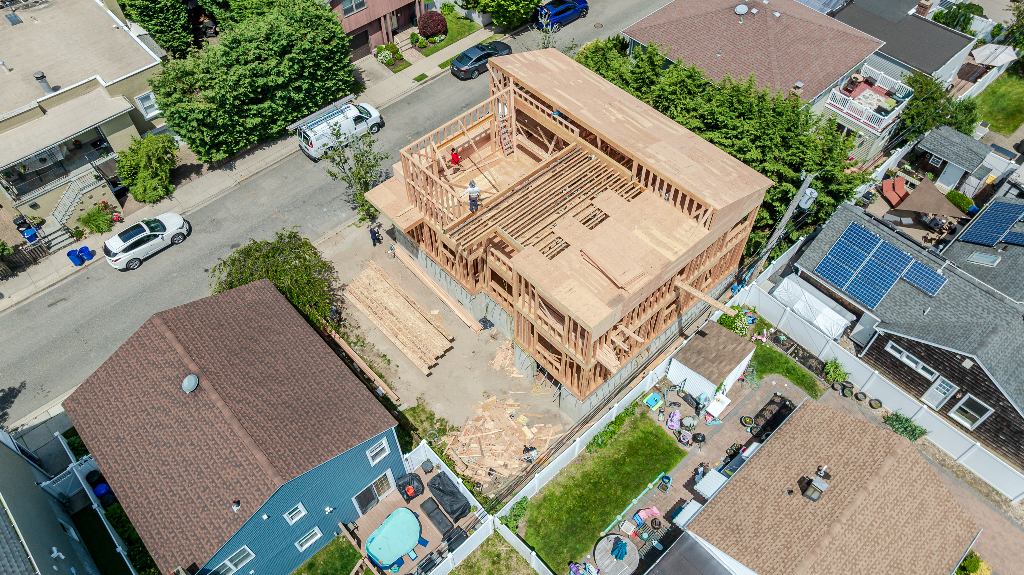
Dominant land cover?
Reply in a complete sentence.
For the most part, this view shows buildings.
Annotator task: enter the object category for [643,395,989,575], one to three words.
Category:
house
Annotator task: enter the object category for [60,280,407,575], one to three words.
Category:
house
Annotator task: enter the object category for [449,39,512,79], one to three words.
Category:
car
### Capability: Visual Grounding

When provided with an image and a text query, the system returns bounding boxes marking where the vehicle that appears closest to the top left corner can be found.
[97,212,189,272]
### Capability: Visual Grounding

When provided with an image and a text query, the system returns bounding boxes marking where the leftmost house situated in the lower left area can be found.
[0,446,102,575]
